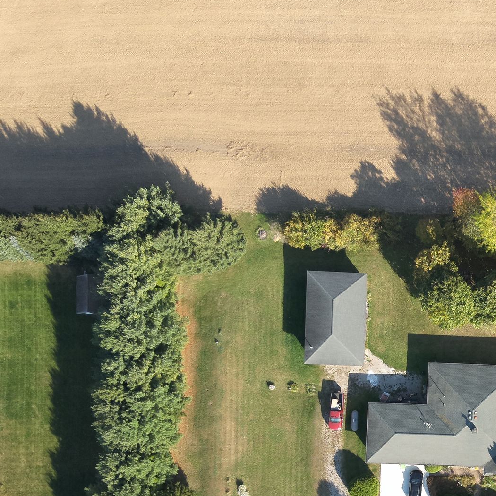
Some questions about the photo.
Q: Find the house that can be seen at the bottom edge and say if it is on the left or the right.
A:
right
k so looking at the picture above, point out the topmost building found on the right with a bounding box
[303,269,368,366]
